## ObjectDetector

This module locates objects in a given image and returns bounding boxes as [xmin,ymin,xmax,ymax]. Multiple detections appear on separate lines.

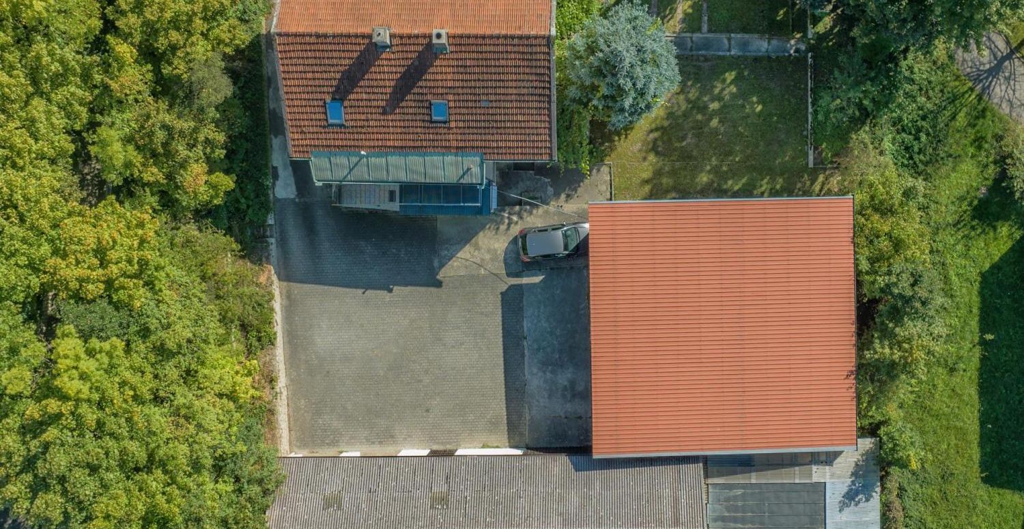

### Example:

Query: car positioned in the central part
[517,224,589,264]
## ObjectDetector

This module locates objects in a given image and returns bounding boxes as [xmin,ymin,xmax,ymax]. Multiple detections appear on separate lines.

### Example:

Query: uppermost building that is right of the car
[589,195,858,458]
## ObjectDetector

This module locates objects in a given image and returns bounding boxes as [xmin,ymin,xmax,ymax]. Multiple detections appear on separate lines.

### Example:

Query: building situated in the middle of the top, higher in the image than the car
[269,0,557,219]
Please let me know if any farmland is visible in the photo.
No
